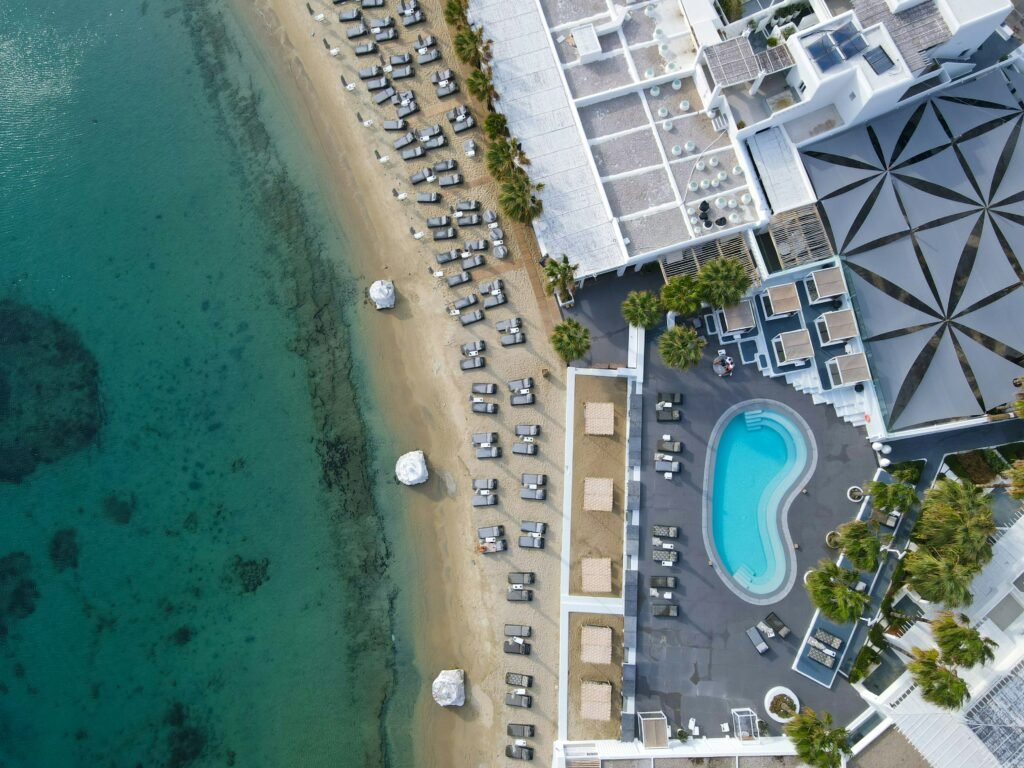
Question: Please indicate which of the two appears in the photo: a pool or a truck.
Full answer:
This aerial view contains a pool.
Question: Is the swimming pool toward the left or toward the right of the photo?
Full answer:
It is on the right.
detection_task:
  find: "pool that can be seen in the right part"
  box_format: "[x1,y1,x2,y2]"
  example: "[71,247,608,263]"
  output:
[702,399,818,605]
